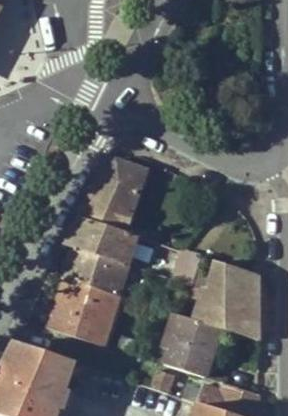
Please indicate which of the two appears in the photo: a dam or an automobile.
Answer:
automobile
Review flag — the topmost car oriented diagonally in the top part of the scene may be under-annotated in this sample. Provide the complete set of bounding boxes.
[115,86,136,108]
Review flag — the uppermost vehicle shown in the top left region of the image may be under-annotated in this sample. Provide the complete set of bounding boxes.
[39,16,55,50]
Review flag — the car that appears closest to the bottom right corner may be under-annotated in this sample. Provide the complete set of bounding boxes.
[234,372,256,386]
